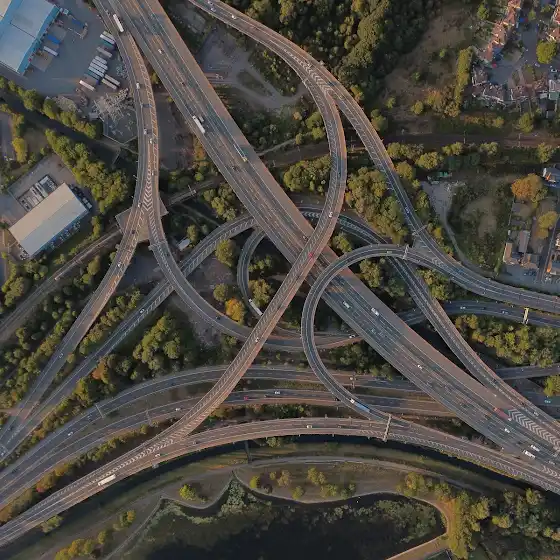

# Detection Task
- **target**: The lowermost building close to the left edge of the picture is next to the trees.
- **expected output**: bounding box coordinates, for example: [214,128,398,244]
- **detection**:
[9,183,91,256]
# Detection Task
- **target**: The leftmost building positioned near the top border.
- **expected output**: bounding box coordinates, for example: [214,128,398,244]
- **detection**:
[0,0,66,76]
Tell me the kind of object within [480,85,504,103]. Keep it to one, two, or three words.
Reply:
house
